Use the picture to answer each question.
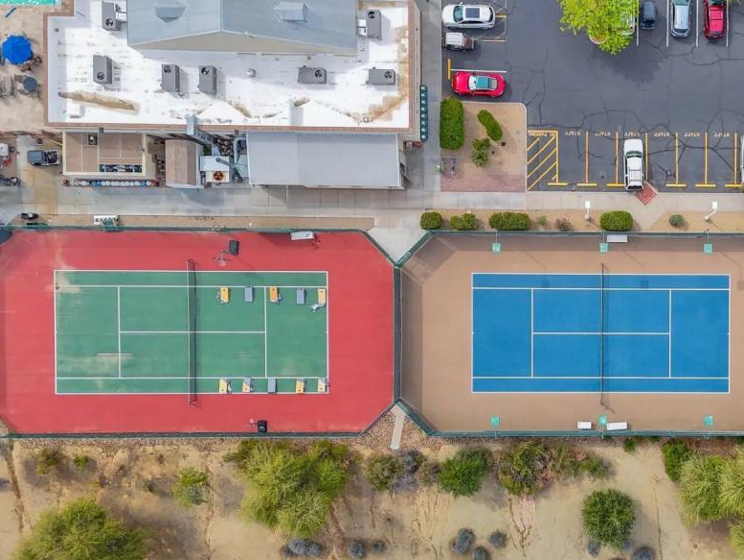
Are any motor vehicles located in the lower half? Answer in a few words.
No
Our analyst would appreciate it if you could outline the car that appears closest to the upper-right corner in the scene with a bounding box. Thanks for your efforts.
[702,0,727,42]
